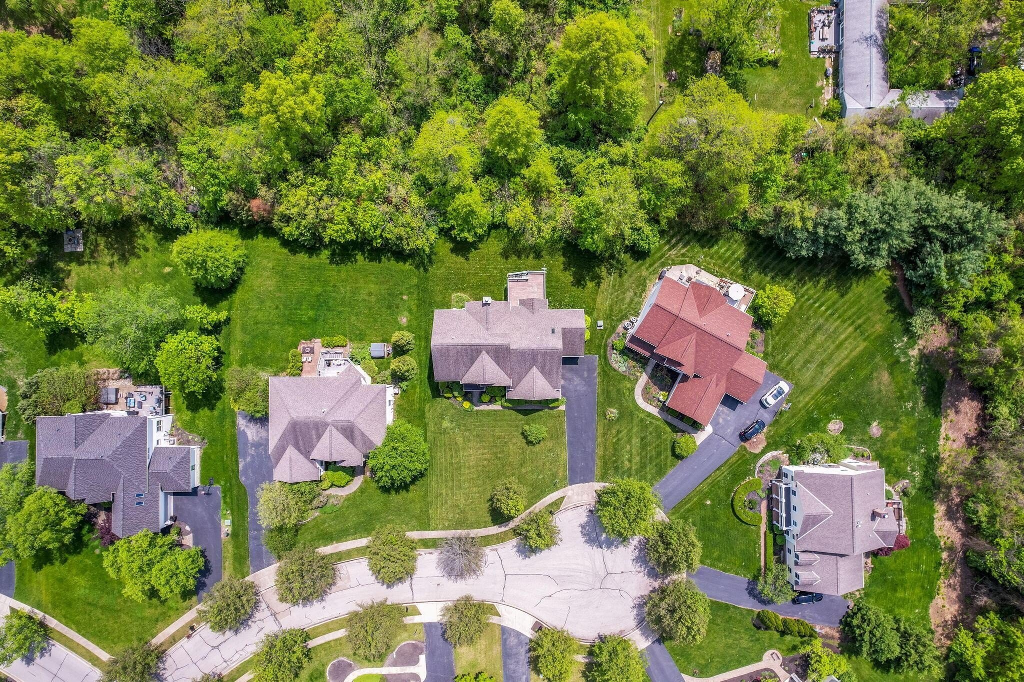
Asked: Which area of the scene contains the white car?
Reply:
right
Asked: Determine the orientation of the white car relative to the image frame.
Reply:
on a diagonal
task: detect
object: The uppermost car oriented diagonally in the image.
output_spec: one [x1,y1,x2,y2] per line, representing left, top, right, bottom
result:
[759,379,791,411]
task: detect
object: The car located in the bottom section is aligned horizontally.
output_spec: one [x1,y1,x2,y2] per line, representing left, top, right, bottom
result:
[790,591,823,607]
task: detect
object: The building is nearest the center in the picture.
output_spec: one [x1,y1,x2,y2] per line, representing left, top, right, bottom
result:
[431,297,586,401]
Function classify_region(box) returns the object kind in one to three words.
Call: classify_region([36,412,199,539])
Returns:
house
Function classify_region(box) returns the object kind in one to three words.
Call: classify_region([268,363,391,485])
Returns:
house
